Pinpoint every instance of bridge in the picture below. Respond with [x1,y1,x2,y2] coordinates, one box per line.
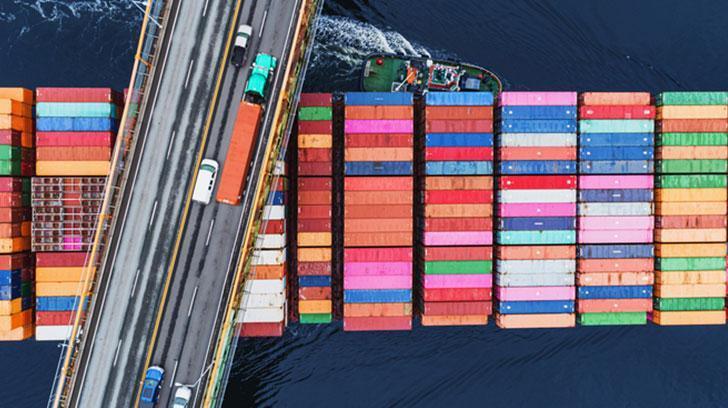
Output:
[47,0,325,408]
